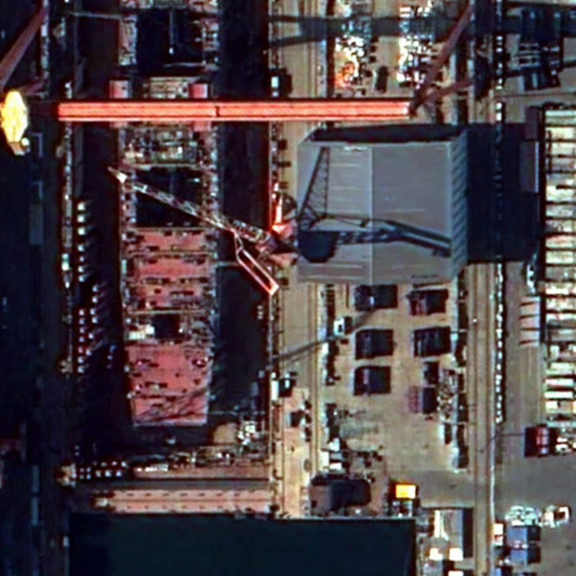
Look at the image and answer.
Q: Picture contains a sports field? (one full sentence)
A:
No, the frame has no sports field in it.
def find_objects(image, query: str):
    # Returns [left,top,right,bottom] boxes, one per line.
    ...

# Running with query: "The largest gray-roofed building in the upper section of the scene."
[297,129,467,284]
